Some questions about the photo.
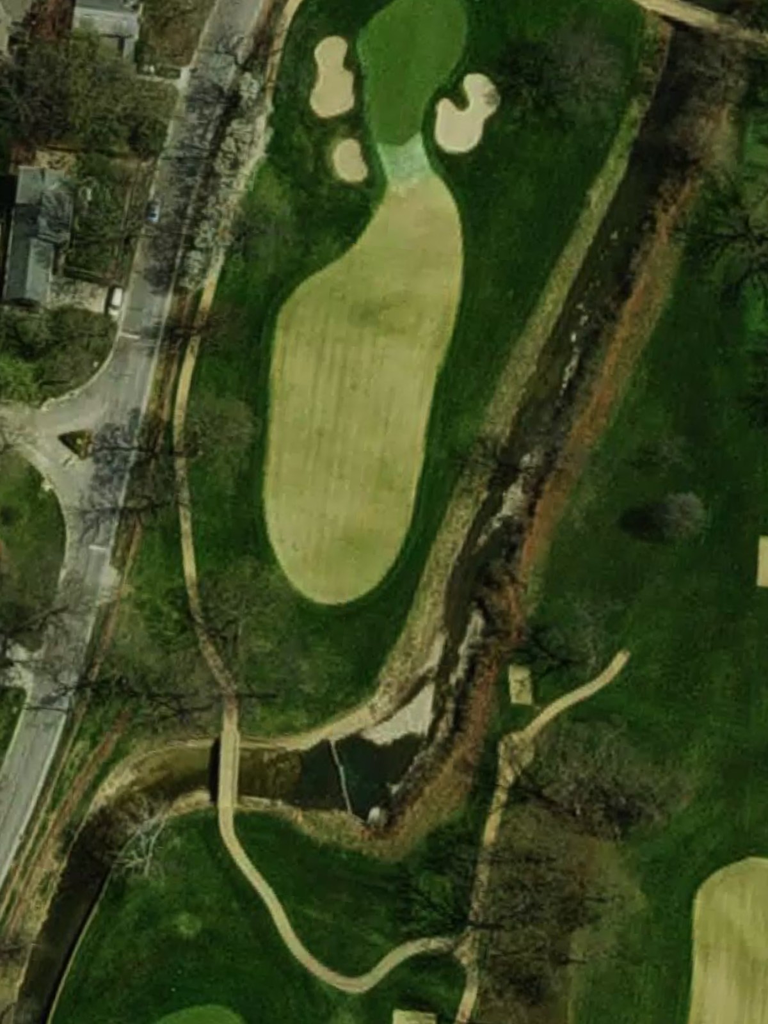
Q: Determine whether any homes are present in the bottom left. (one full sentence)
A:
No, there's no home to be seen in the bottom left.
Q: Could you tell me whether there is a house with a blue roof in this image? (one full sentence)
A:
No, there's no house with a blue roof here.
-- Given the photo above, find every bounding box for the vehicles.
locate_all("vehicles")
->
[147,199,161,223]
[108,286,121,313]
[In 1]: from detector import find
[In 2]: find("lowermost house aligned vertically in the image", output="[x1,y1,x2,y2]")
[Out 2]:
[5,165,77,304]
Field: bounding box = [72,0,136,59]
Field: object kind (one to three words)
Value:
house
